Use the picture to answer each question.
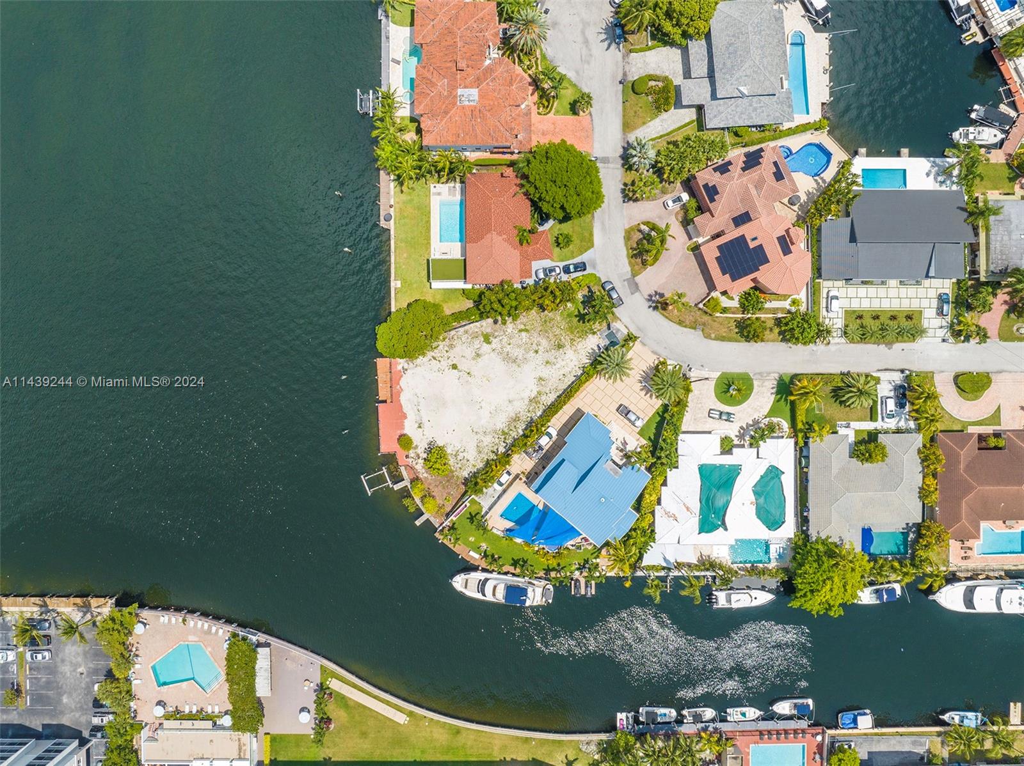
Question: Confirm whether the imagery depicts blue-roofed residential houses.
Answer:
Yes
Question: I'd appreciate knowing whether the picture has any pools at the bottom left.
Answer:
Yes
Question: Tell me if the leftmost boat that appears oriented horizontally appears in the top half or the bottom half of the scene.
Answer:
bottom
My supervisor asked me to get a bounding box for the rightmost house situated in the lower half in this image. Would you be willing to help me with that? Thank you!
[929,431,1024,539]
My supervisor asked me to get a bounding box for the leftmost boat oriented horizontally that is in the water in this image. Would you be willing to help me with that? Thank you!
[447,571,555,608]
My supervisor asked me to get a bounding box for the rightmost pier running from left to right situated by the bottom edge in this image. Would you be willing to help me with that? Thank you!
[635,718,808,734]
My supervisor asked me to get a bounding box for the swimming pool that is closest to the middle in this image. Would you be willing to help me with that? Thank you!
[499,491,547,527]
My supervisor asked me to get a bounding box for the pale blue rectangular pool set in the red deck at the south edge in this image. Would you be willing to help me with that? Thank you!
[748,742,808,766]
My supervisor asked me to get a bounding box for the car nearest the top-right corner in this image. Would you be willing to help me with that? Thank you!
[936,291,951,317]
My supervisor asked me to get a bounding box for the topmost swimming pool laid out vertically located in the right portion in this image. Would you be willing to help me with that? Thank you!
[787,28,810,116]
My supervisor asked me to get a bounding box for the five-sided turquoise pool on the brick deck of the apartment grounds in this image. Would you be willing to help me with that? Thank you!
[149,641,226,697]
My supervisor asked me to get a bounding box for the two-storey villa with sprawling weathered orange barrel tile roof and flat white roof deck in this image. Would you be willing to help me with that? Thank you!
[414,0,530,154]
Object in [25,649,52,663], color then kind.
white car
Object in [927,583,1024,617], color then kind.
white boat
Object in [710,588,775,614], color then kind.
white boat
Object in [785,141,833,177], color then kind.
blue swimming pool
